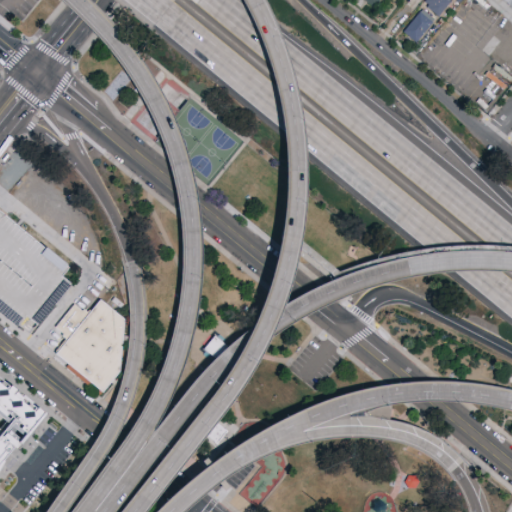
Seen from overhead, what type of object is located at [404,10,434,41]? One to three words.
house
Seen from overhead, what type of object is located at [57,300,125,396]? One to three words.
building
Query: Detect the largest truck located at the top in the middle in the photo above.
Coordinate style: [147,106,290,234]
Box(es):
[192,48,216,68]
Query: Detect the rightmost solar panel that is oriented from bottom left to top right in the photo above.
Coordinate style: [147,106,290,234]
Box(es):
[34,280,70,322]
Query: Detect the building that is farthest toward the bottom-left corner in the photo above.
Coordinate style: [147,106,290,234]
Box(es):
[0,374,48,472]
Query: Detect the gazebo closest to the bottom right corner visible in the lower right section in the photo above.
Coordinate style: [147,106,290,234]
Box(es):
[404,475,420,488]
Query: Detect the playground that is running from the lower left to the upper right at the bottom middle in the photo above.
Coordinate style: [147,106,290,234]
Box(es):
[240,450,286,512]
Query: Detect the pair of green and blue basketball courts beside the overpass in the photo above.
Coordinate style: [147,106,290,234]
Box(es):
[152,98,244,185]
